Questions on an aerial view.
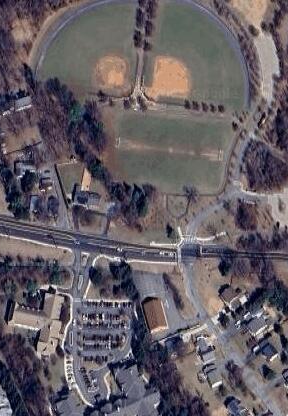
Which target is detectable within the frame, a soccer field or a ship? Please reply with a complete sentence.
Visible in the photo is a soccer field.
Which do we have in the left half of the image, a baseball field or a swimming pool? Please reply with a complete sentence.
The one visible in the left half of the image is a baseball field.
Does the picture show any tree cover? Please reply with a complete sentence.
Yes, there's tree cover in this view.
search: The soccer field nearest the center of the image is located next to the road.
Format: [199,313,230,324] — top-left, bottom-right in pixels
[114,112,241,194]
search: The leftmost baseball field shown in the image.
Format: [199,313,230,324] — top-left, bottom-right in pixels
[38,0,137,99]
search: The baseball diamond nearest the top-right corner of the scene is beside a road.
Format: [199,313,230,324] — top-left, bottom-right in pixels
[146,0,246,107]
